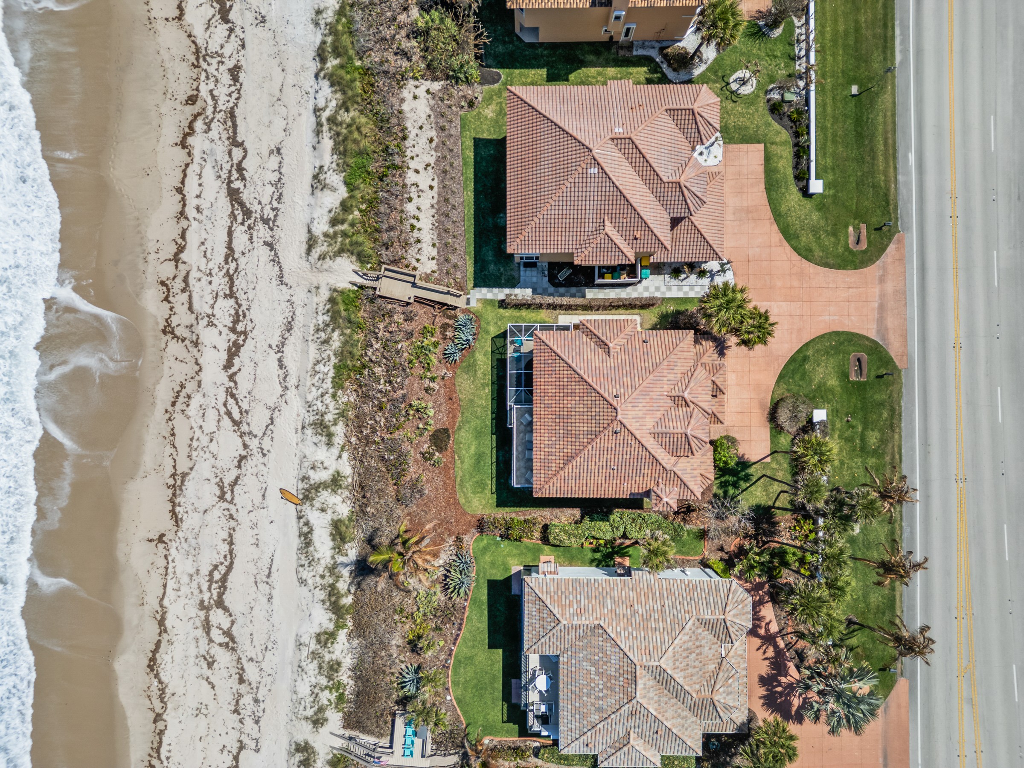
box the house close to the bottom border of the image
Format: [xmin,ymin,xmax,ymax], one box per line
[522,560,754,768]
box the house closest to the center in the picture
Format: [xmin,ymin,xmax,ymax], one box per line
[532,317,728,513]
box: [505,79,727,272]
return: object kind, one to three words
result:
house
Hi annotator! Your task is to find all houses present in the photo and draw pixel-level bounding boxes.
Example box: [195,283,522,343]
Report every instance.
[532,317,728,513]
[504,0,714,55]
[505,79,727,272]
[522,560,754,768]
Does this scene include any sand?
Yes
